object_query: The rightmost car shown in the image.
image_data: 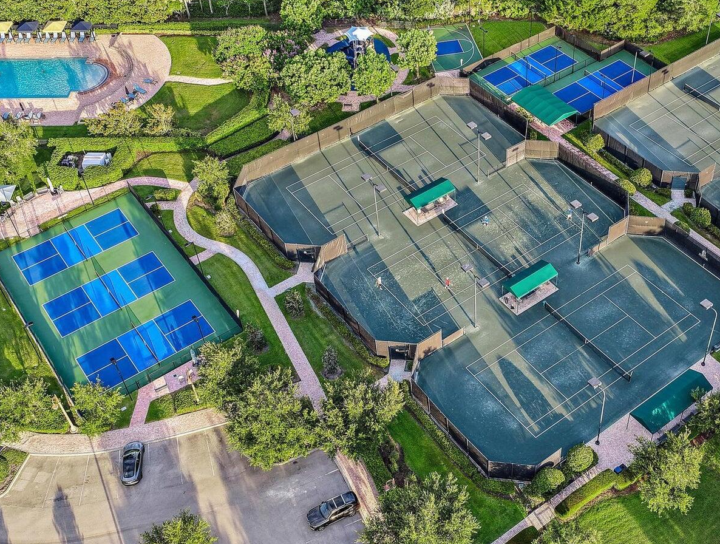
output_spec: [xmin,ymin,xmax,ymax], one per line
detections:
[309,493,364,532]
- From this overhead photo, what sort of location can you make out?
sports ground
